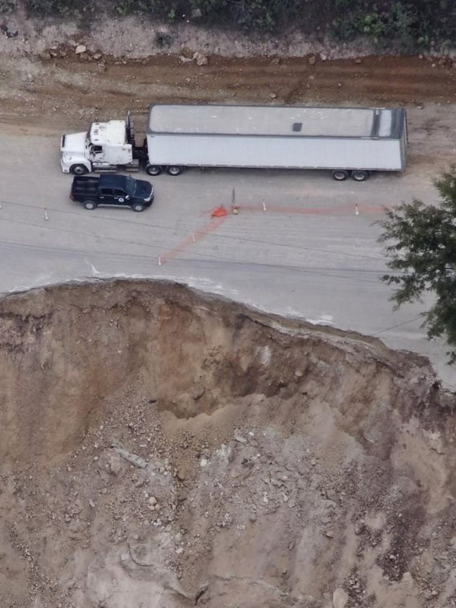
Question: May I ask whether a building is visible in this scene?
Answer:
No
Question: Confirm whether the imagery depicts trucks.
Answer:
Yes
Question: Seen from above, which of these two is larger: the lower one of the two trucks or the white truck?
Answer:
the white truck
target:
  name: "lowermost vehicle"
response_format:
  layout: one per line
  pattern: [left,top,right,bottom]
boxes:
[69,170,154,211]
